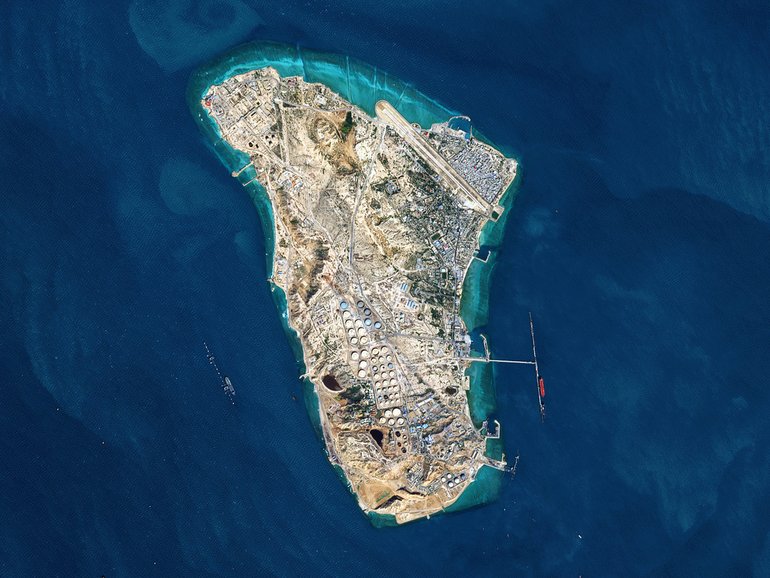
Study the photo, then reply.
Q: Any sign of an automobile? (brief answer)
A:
No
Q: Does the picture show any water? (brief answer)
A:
Yes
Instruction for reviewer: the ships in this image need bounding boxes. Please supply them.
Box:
[540,378,545,397]
[226,377,235,395]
